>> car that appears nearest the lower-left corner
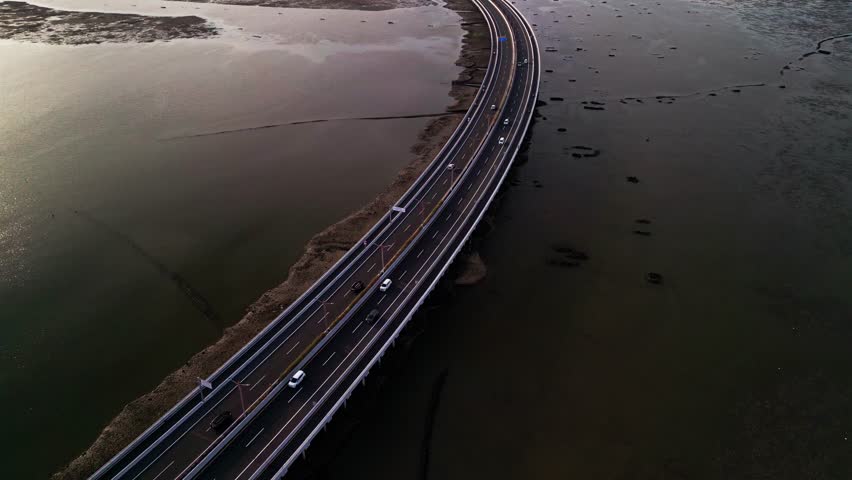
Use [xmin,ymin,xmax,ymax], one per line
[211,413,233,433]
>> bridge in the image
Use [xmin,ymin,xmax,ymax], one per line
[89,0,542,480]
